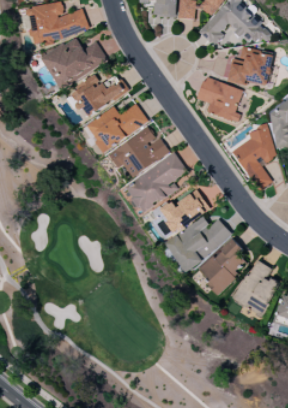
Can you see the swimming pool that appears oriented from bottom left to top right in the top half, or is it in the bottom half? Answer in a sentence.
The top half of the photo is where the swimming pool that appears oriented from bottom left to top right is.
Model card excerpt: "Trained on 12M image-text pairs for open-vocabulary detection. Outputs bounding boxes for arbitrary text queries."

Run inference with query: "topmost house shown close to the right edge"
[200,0,274,44]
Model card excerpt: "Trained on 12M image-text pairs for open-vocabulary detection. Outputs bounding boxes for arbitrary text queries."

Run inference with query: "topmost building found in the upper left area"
[26,0,90,46]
